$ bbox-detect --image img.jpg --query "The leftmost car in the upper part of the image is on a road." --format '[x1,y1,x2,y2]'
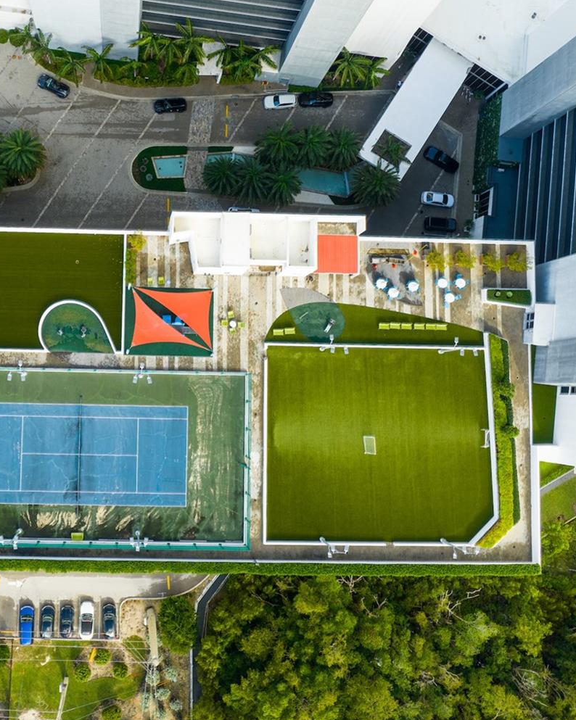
[39,74,70,98]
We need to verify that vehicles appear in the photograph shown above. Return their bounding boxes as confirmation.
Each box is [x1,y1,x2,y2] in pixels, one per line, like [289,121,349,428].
[78,602,94,639]
[424,146,457,172]
[263,92,297,109]
[153,96,186,113]
[59,603,75,641]
[420,192,452,207]
[39,603,54,641]
[298,91,332,108]
[101,603,117,641]
[17,607,34,645]
[39,74,70,98]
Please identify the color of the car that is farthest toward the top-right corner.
black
